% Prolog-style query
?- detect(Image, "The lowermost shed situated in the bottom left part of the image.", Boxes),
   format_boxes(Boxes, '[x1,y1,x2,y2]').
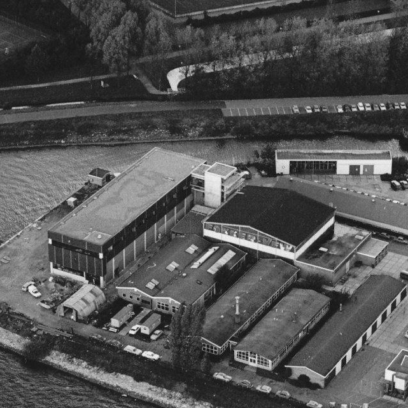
[57,289,99,320]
